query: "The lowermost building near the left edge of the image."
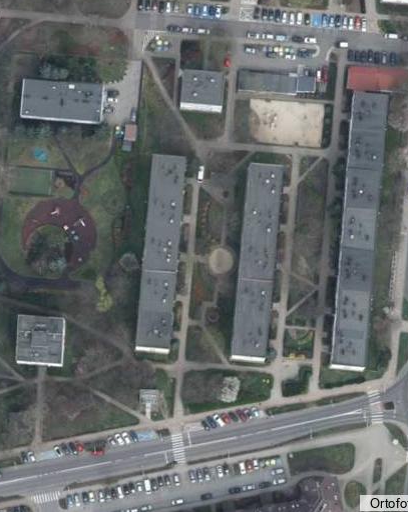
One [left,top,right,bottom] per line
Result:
[17,315,66,369]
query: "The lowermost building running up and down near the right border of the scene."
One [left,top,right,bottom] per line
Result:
[331,91,389,371]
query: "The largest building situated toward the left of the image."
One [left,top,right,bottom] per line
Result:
[135,155,187,355]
